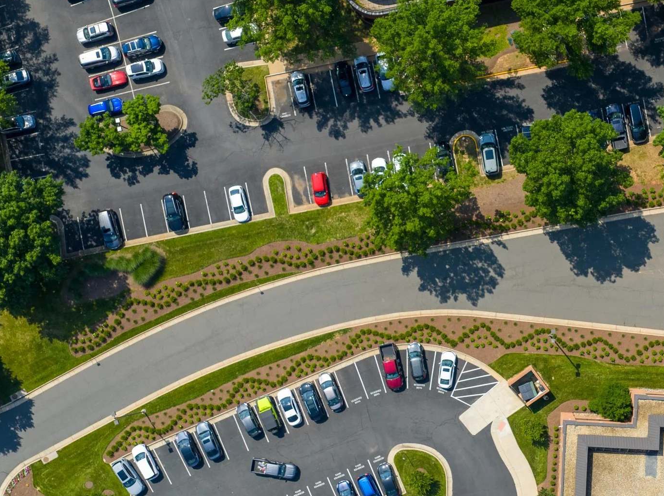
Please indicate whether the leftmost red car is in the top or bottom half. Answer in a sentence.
The leftmost red car sits in the top half of the picture.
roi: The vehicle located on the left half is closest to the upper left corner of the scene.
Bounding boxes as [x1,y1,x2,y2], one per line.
[0,46,25,68]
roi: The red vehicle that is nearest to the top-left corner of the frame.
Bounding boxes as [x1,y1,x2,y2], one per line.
[88,71,129,92]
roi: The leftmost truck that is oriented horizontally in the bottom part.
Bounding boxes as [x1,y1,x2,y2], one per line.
[249,457,298,482]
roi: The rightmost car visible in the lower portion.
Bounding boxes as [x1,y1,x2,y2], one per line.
[439,351,456,389]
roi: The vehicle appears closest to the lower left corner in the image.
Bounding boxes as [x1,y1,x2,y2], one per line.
[111,457,145,496]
